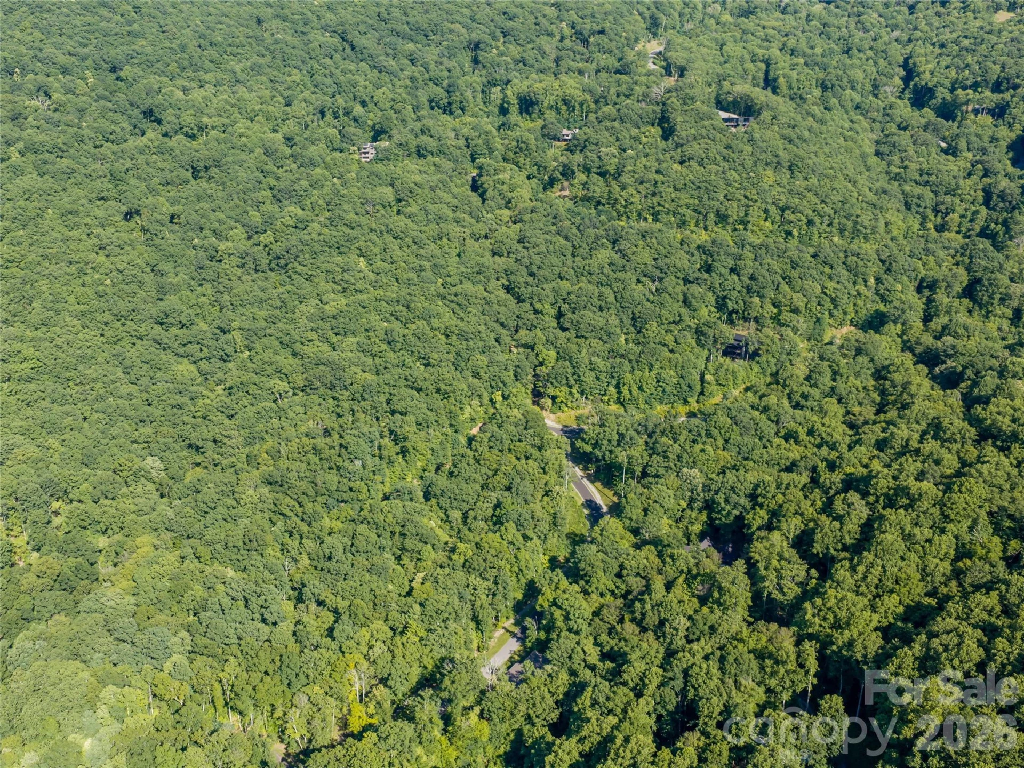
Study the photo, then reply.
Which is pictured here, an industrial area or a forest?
forest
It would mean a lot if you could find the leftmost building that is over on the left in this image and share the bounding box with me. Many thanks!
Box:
[357,137,376,160]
